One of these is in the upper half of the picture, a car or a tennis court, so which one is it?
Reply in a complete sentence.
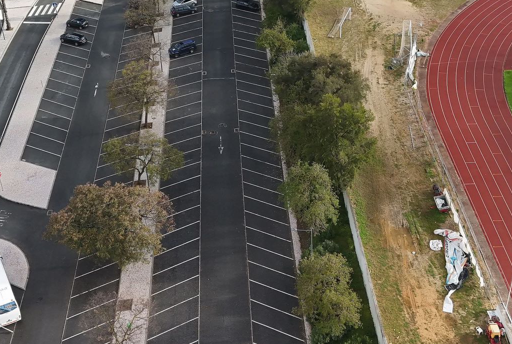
You can see a car in the upper half of the picture.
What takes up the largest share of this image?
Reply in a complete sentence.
The bulk of the photo consists of paved ground.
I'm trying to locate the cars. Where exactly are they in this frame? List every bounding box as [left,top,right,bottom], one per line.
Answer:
[165,36,199,58]
[170,0,198,7]
[167,4,199,20]
[57,32,89,48]
[63,17,91,32]
[231,0,261,12]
